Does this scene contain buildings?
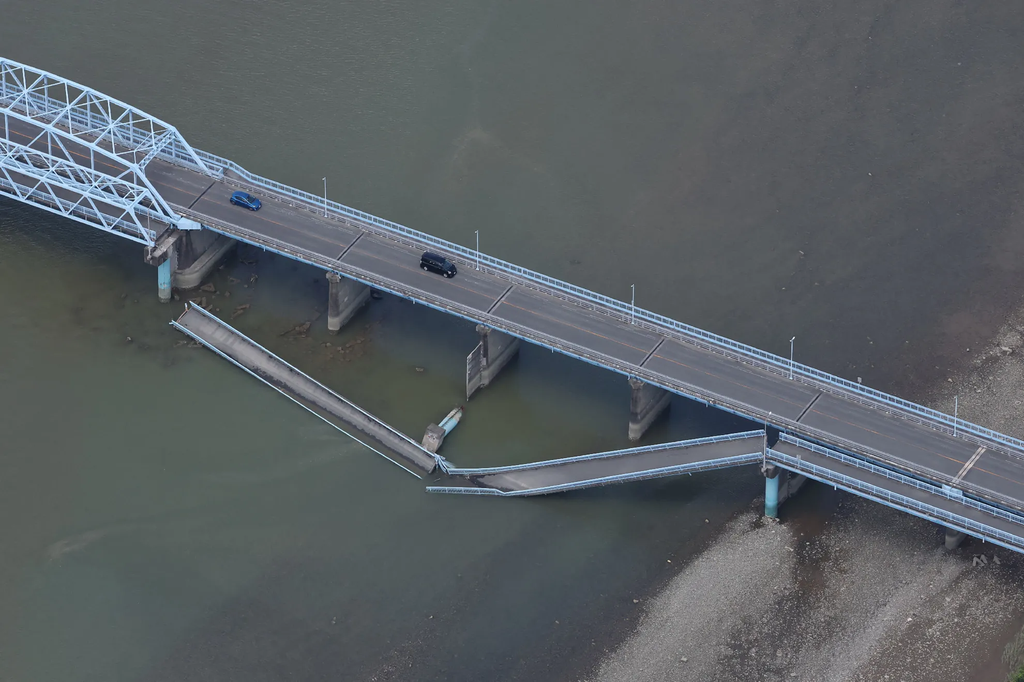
No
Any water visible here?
Yes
